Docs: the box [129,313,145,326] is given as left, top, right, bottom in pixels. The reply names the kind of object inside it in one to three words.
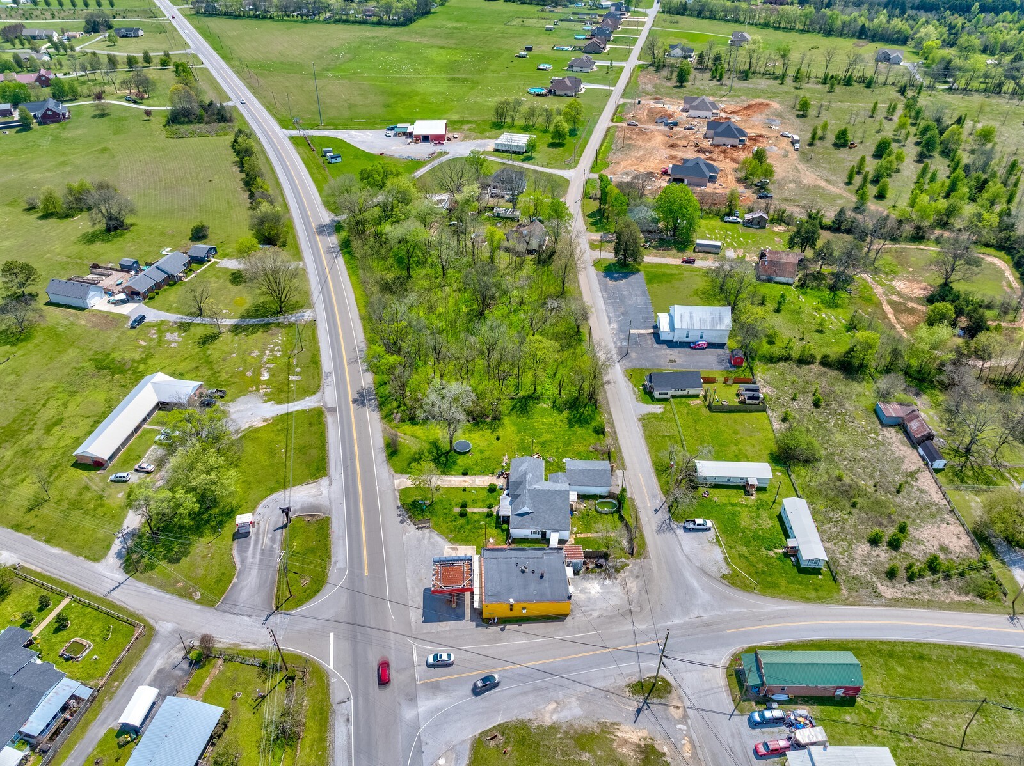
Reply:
vehicle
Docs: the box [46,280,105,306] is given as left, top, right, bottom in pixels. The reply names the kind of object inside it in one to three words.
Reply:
building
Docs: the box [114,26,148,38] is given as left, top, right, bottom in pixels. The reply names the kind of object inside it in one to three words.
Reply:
house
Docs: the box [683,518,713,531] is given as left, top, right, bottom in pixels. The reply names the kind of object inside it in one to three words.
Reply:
vehicle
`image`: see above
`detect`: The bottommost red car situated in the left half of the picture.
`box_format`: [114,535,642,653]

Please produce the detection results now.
[376,657,389,686]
